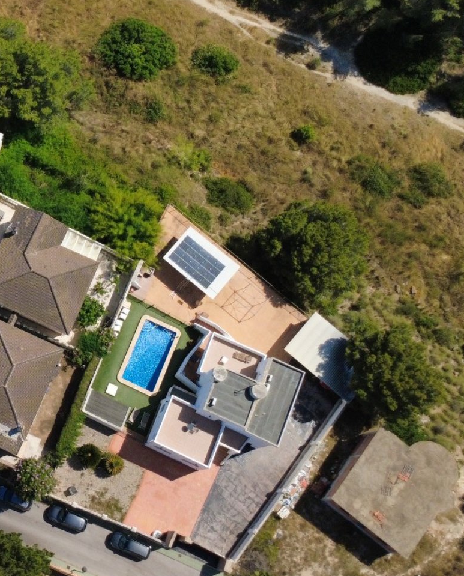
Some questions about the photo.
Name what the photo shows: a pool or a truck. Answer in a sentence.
It is a pool that can be seen here.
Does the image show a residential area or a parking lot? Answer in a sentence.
The area seen from above is a residential area.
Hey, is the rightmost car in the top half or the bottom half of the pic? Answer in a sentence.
Seen from above, the rightmost car lies in the bottom half of the view.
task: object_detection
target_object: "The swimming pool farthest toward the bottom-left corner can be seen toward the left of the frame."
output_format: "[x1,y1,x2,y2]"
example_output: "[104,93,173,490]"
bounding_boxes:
[121,318,179,391]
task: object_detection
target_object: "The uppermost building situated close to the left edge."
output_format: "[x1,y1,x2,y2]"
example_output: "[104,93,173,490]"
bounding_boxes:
[0,205,102,336]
